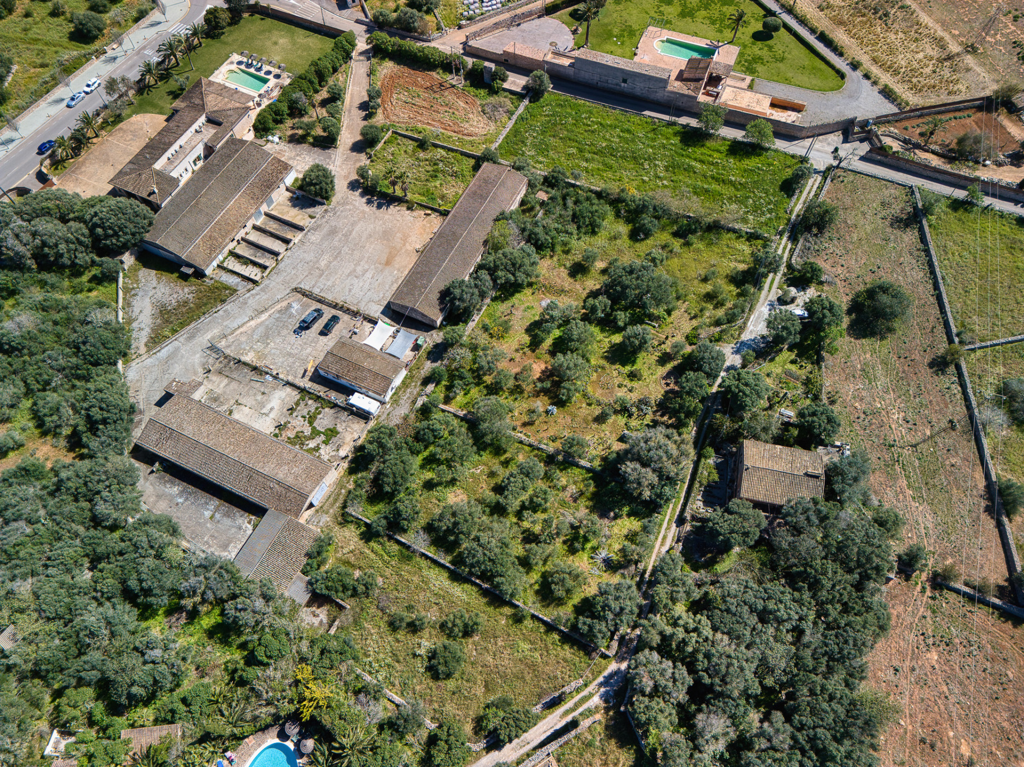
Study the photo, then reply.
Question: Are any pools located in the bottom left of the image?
Yes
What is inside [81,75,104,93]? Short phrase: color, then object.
white car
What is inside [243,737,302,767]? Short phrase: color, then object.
blue swimming pool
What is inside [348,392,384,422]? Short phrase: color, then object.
white camper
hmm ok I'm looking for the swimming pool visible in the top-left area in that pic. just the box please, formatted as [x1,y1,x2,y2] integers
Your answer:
[221,65,273,93]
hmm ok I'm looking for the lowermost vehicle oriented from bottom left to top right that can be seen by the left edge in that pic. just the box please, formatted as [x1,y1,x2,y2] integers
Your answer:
[35,135,56,154]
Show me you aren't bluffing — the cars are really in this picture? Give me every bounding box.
[295,306,327,332]
[317,312,342,338]
[35,135,56,154]
[65,90,88,108]
[81,75,104,93]
[785,306,811,321]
